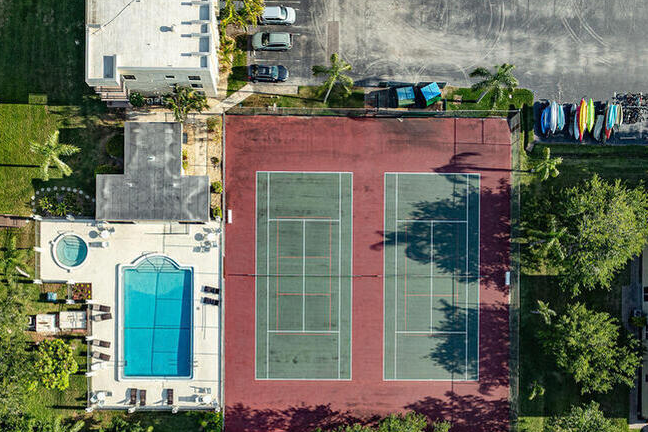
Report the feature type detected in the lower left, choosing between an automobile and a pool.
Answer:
pool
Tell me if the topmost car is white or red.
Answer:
white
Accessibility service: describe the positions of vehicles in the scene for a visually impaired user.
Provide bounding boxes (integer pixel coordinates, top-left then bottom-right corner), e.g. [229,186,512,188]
[254,29,291,49]
[248,60,288,81]
[259,3,295,23]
